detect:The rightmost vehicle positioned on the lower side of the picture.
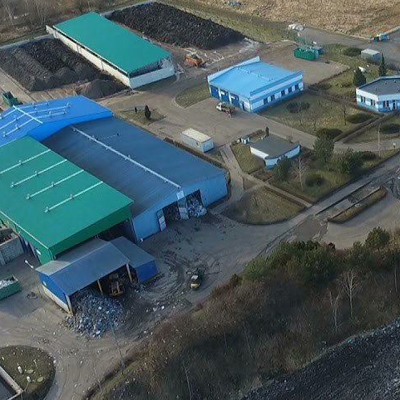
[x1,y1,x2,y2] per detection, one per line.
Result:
[185,268,203,294]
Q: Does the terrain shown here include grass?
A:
Yes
